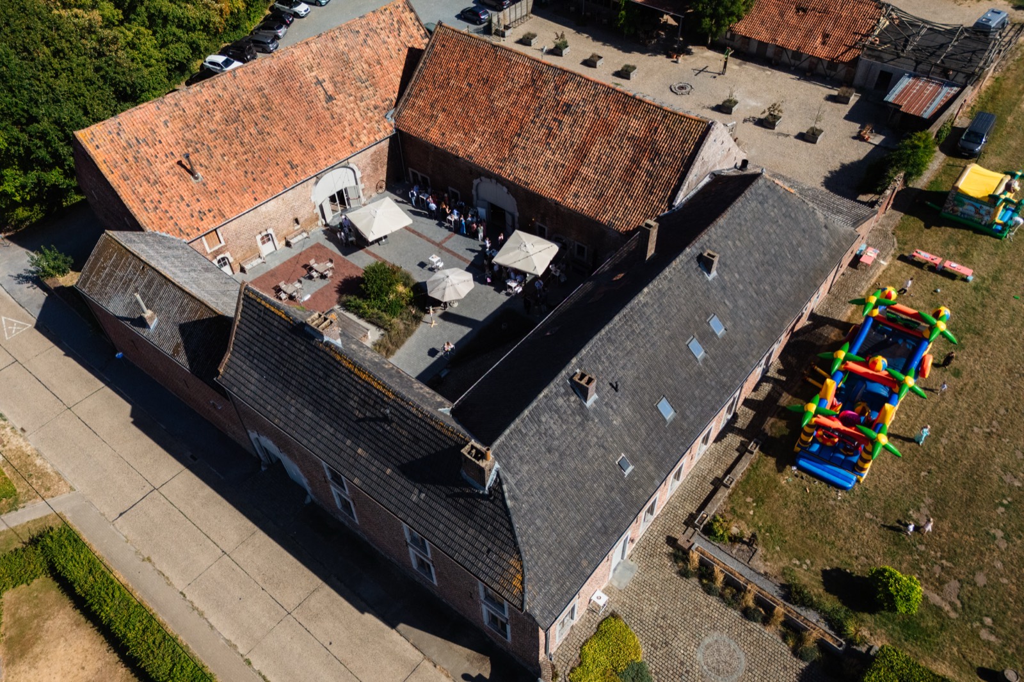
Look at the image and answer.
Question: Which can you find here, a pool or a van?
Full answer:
The one in the frame is a van.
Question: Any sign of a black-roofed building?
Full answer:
Yes, the frame does contain a black-roofed building.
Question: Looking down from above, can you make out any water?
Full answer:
No, there's no water in this view.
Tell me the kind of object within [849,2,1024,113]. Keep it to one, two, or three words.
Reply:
barn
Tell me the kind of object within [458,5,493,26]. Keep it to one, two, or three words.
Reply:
car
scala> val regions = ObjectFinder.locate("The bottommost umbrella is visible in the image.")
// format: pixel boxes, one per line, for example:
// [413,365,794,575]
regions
[426,268,474,309]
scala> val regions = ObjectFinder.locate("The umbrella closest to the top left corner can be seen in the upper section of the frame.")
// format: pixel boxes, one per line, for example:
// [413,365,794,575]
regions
[341,197,413,250]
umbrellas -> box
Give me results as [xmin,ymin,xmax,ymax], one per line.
[341,197,413,250]
[426,268,474,309]
[492,230,559,284]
